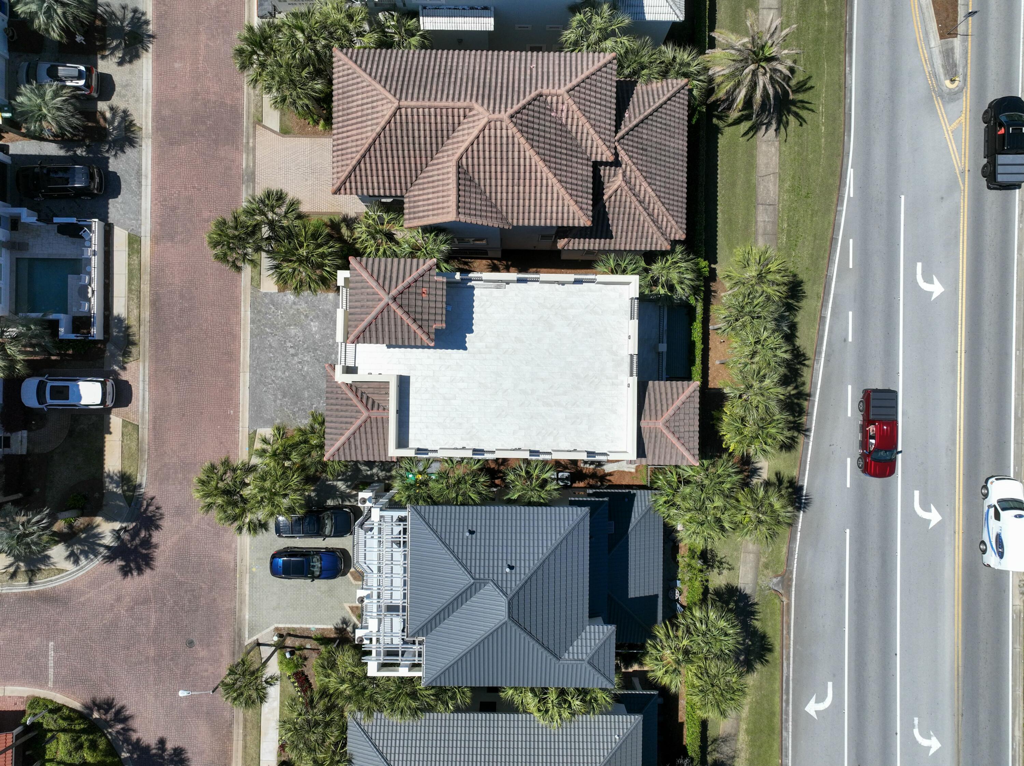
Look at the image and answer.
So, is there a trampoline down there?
No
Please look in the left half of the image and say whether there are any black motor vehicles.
Yes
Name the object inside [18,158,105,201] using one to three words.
car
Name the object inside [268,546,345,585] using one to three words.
car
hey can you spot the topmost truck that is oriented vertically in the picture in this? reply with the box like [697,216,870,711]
[979,96,1024,193]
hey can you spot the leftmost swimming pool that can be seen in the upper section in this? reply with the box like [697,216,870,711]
[15,257,81,313]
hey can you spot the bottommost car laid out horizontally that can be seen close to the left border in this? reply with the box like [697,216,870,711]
[23,372,117,413]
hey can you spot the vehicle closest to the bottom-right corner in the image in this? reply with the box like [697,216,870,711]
[976,476,1024,576]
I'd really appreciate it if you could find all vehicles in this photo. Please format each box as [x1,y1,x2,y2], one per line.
[855,385,902,478]
[23,372,117,413]
[18,158,105,201]
[19,55,102,102]
[268,546,345,585]
[272,503,355,543]
[979,96,1024,193]
[976,476,1024,576]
